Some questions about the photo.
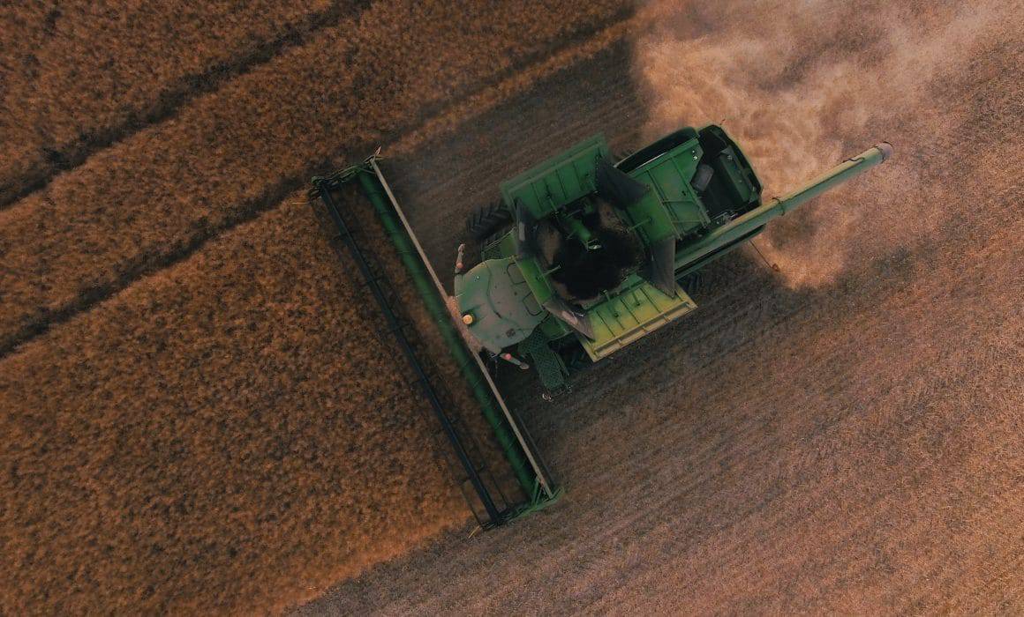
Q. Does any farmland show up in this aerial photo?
Yes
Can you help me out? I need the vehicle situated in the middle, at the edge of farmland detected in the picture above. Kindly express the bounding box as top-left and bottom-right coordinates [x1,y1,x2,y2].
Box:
[295,122,893,536]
